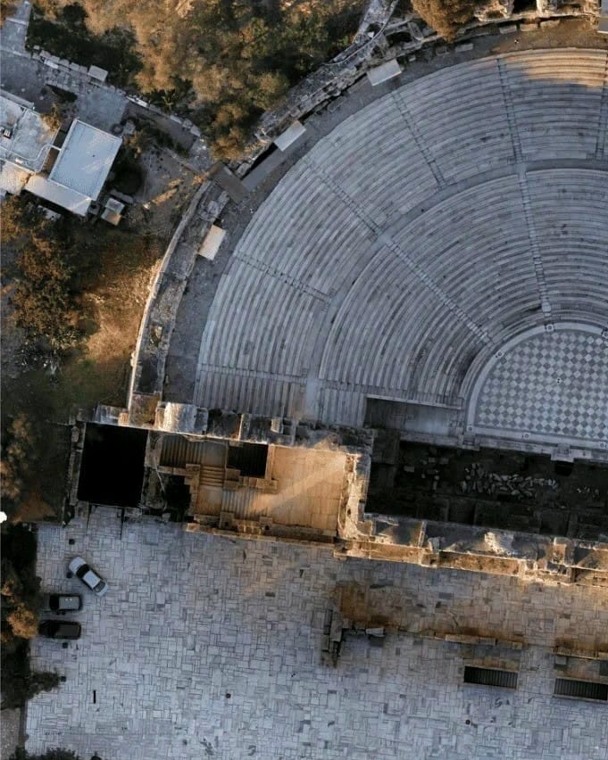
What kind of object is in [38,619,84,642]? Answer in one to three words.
car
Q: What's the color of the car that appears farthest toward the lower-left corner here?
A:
black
